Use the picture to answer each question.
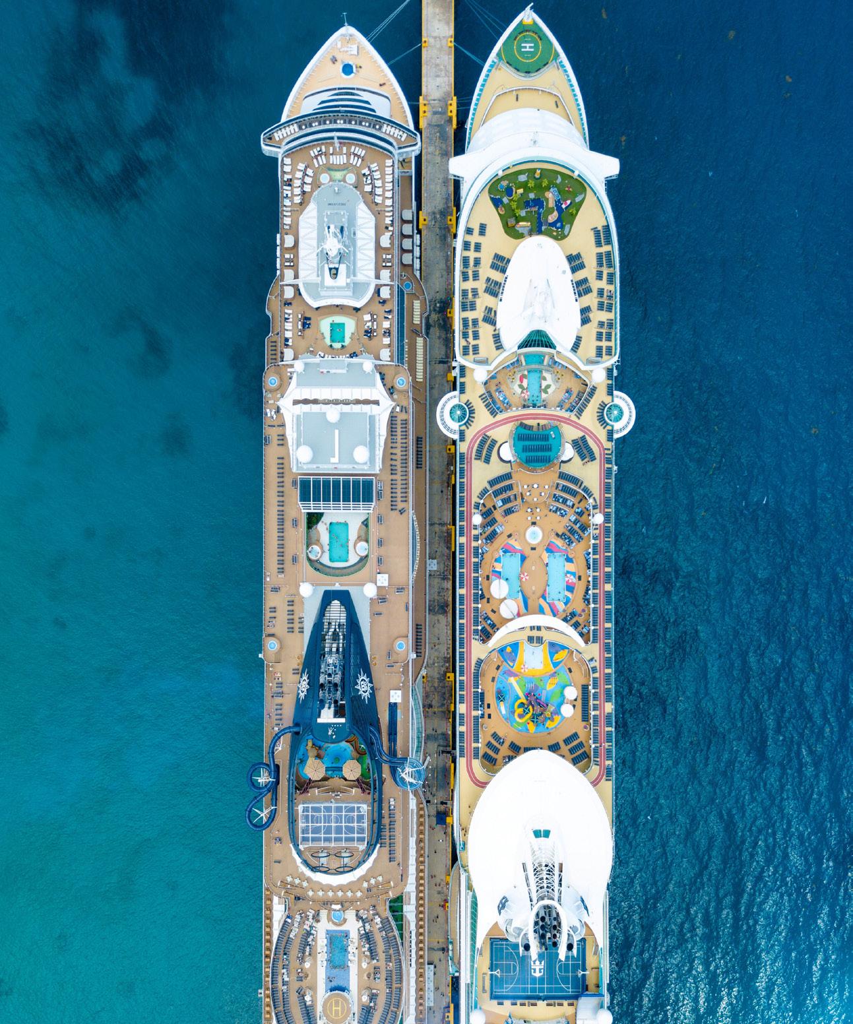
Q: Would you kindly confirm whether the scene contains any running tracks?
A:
Yes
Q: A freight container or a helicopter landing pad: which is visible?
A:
helicopter landing pad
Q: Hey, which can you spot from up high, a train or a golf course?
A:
golf course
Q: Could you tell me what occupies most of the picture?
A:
water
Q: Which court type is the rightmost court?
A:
basketball court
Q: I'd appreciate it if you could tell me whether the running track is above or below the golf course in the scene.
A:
below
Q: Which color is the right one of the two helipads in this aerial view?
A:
green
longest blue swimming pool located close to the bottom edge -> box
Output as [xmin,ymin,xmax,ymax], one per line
[325,929,350,993]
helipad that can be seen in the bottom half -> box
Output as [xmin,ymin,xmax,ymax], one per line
[321,986,353,1023]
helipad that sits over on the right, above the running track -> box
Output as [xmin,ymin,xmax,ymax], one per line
[495,19,560,75]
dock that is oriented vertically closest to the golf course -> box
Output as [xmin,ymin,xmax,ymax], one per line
[421,0,454,1024]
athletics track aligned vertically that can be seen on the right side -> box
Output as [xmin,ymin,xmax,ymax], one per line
[465,413,606,787]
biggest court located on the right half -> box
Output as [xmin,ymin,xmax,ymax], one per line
[488,933,590,1000]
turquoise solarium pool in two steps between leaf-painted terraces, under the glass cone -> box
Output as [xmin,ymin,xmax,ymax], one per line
[508,359,560,404]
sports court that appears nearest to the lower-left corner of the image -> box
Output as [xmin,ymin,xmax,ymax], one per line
[297,796,370,848]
